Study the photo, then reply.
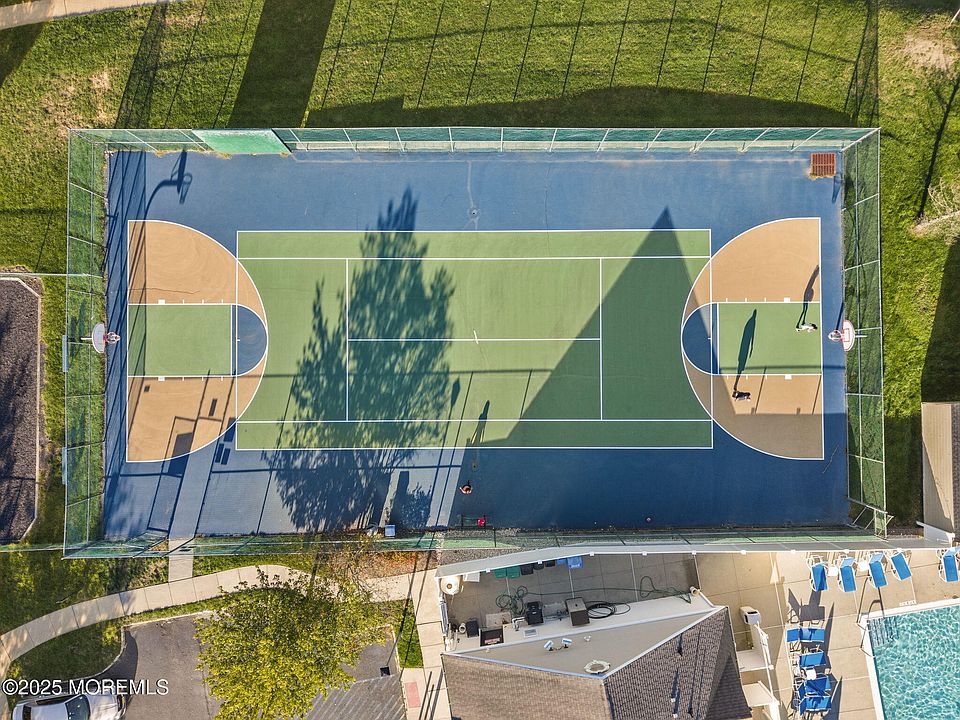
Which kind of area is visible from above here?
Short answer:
sports ground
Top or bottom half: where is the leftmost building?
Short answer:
bottom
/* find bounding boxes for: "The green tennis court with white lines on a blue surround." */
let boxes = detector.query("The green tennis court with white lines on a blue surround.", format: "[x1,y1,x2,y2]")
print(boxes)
[104,152,848,541]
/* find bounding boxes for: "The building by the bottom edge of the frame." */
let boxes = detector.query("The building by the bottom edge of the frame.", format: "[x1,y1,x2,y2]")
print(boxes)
[439,588,756,720]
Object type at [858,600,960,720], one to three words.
swimming pool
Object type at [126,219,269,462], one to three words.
basketball court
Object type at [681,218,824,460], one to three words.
basketball court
